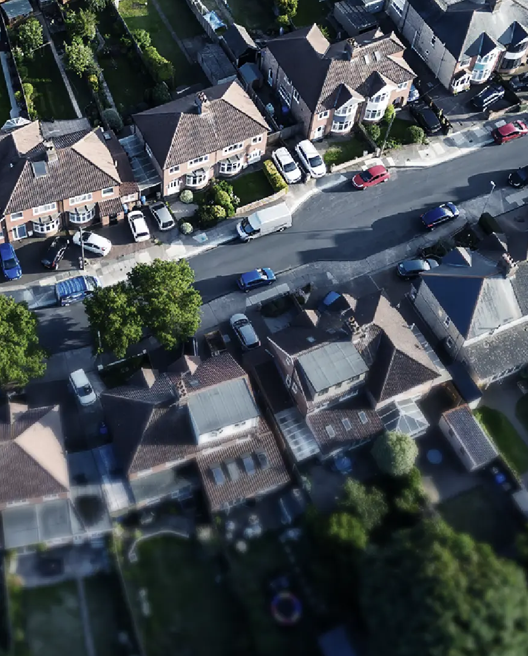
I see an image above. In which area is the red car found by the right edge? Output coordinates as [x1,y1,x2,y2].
[491,119,528,143]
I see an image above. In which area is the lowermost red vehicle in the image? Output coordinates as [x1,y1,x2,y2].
[351,162,393,189]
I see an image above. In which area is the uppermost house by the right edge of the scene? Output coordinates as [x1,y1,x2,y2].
[406,0,528,89]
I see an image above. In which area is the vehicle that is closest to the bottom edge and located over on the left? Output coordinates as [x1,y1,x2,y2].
[68,365,100,408]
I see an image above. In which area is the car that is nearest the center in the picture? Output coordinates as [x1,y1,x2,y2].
[227,311,263,349]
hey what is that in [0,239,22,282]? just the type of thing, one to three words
car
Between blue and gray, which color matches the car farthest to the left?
blue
